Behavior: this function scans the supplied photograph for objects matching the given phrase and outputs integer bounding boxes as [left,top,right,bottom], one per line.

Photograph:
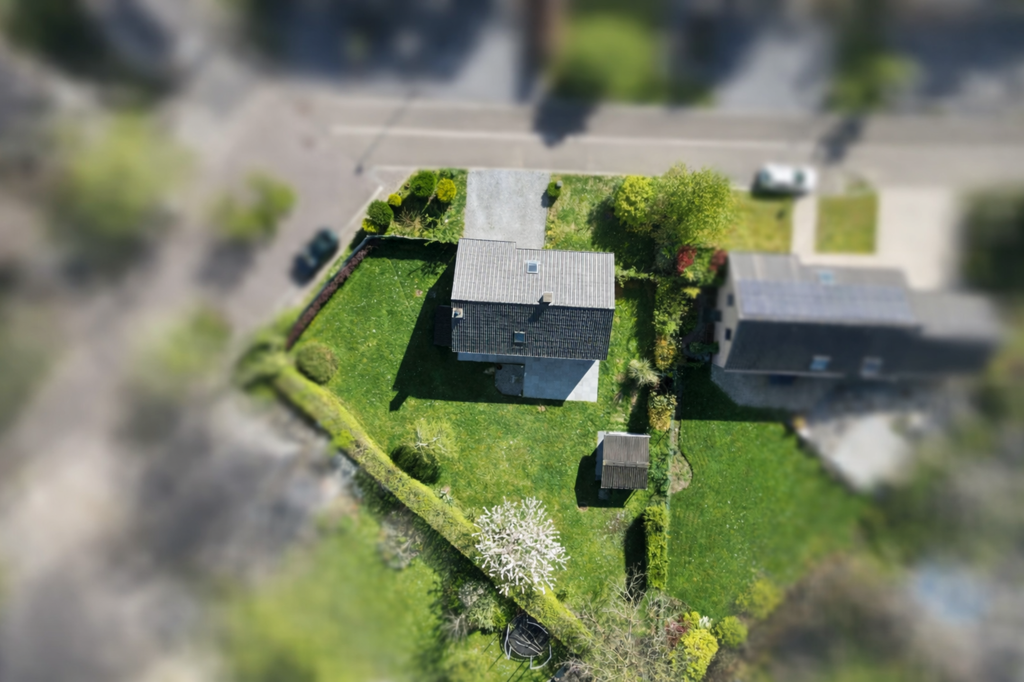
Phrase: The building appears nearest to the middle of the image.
[441,237,615,361]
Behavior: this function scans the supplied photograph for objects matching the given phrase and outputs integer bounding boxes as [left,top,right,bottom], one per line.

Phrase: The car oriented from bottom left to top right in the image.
[290,227,343,283]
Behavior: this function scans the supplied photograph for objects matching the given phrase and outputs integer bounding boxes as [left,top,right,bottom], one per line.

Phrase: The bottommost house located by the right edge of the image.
[710,252,993,387]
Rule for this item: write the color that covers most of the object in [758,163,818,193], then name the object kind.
white car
